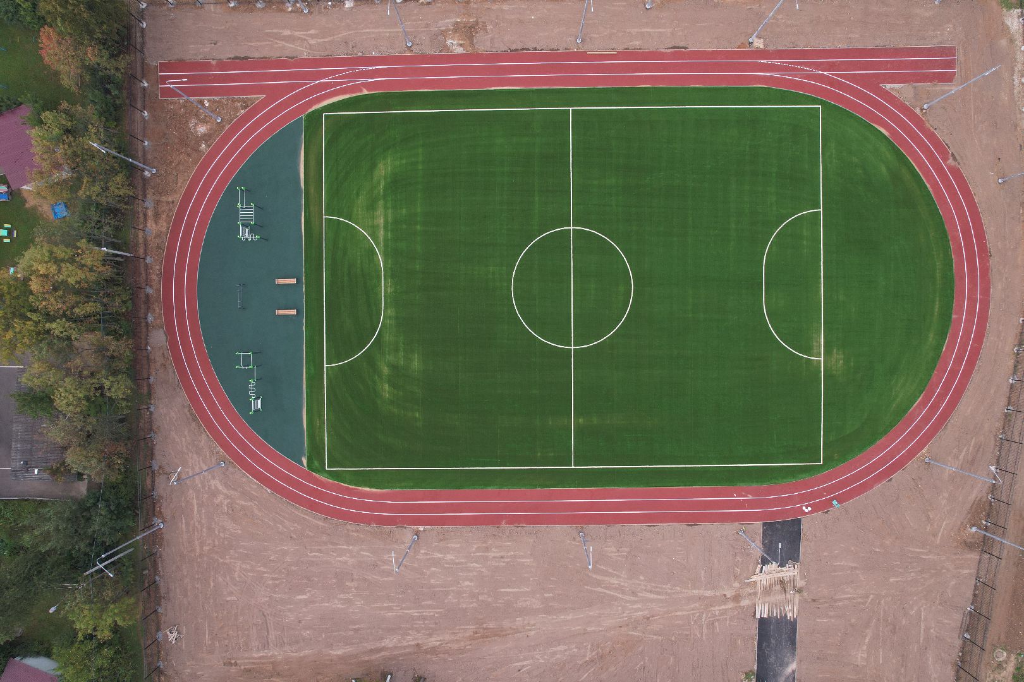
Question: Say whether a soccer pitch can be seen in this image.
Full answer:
Yes, this view includes a soccer pitch.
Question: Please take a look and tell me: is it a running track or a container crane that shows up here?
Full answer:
There is a running track in the scene.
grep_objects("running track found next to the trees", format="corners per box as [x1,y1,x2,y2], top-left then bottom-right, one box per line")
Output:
[158,44,991,528]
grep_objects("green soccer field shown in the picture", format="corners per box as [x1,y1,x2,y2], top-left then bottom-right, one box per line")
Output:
[303,86,953,490]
